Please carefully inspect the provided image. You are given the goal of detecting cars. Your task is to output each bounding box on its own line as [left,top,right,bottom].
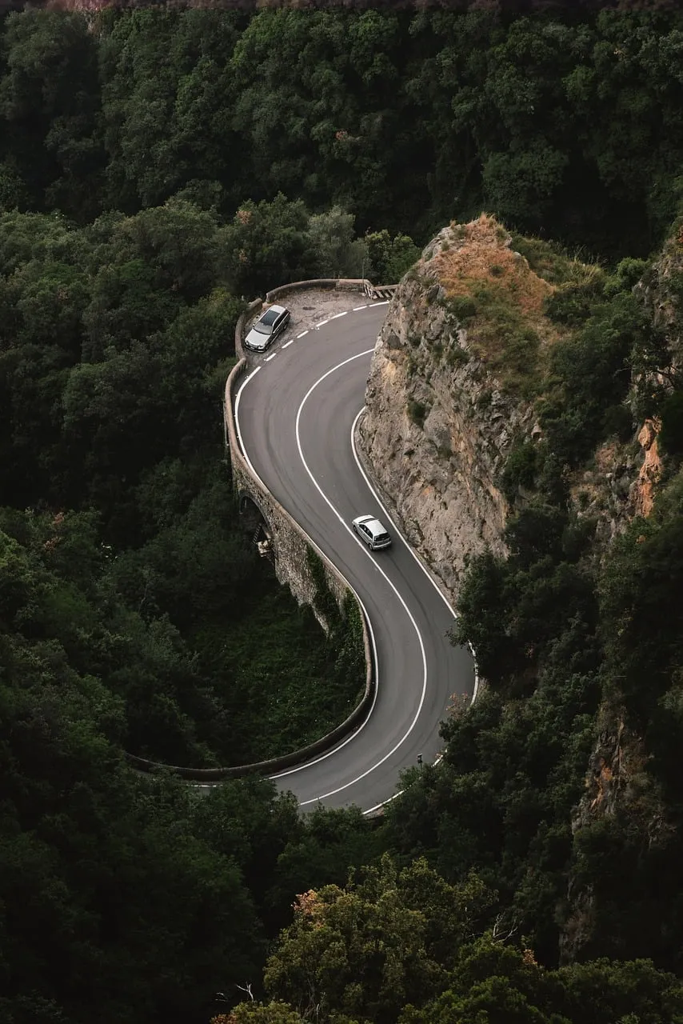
[245,308,290,350]
[353,515,392,550]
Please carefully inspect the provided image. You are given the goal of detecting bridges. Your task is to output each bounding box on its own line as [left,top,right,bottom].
[100,358,372,782]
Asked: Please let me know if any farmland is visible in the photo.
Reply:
No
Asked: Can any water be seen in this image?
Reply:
No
